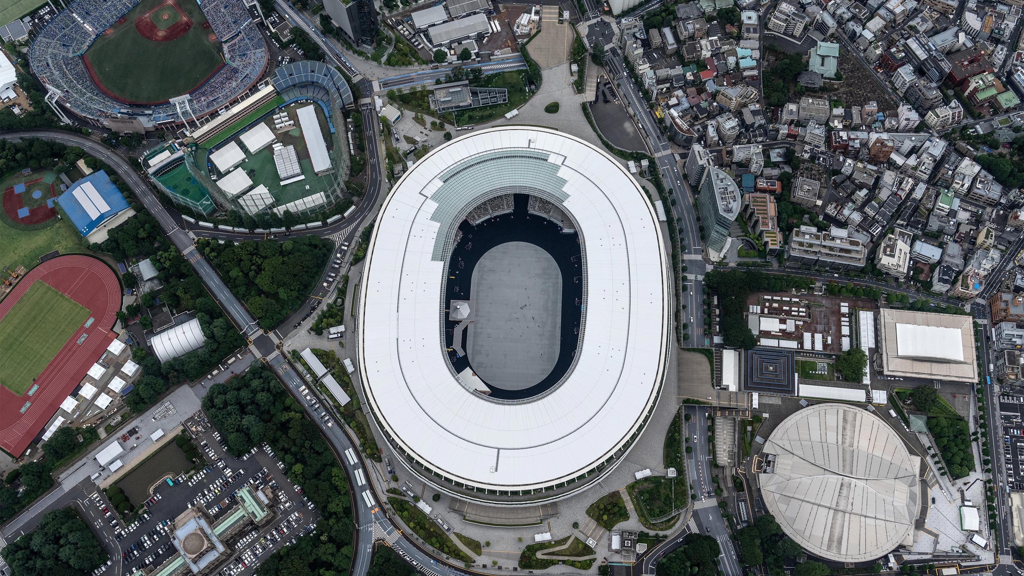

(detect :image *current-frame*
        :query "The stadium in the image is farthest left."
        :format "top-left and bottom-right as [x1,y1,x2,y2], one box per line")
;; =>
[31,0,270,131]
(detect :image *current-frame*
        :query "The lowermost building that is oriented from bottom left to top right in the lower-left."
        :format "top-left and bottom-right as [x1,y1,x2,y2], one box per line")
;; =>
[128,485,281,576]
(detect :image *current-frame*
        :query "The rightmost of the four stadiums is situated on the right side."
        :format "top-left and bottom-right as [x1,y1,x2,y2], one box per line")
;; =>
[760,404,921,562]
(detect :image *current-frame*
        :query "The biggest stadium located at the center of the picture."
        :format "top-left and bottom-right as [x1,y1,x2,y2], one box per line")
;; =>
[353,126,674,511]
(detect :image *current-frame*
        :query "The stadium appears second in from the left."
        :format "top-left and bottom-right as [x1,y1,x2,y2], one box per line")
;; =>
[192,60,355,214]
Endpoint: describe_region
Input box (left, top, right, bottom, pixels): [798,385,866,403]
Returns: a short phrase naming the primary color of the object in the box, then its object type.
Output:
white tent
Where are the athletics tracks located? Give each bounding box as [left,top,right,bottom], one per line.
[0,254,125,458]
